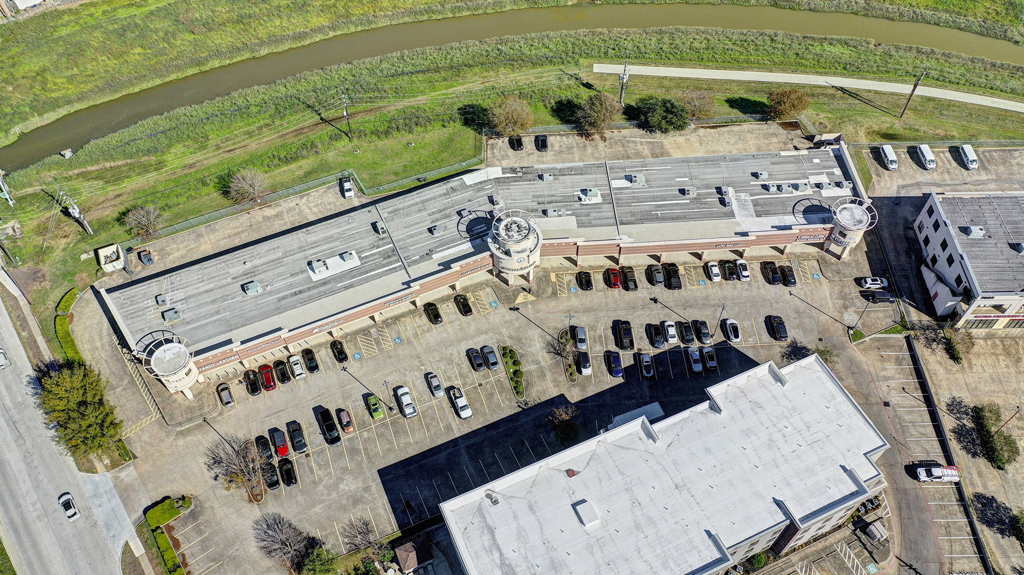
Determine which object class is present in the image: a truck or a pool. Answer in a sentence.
Visible in the photo is a truck.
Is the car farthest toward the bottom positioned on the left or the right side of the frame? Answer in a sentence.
The car farthest toward the bottom is on the left side of the image.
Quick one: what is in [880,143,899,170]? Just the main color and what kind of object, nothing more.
white vehicle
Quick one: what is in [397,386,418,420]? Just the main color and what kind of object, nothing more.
white truck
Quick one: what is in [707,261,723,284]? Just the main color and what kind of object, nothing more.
white car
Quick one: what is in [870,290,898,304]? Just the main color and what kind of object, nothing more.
black car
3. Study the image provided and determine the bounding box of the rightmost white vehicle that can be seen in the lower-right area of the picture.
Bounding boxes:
[916,466,963,484]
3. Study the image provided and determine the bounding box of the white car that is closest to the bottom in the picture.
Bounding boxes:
[58,492,81,523]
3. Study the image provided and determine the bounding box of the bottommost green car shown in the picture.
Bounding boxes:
[367,395,384,421]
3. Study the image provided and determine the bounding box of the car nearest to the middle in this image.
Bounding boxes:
[455,293,474,318]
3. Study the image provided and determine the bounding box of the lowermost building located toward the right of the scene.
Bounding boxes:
[439,354,890,575]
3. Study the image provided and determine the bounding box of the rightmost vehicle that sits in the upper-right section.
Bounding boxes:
[959,143,979,170]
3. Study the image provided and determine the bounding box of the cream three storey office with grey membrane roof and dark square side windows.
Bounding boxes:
[911,187,1024,327]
